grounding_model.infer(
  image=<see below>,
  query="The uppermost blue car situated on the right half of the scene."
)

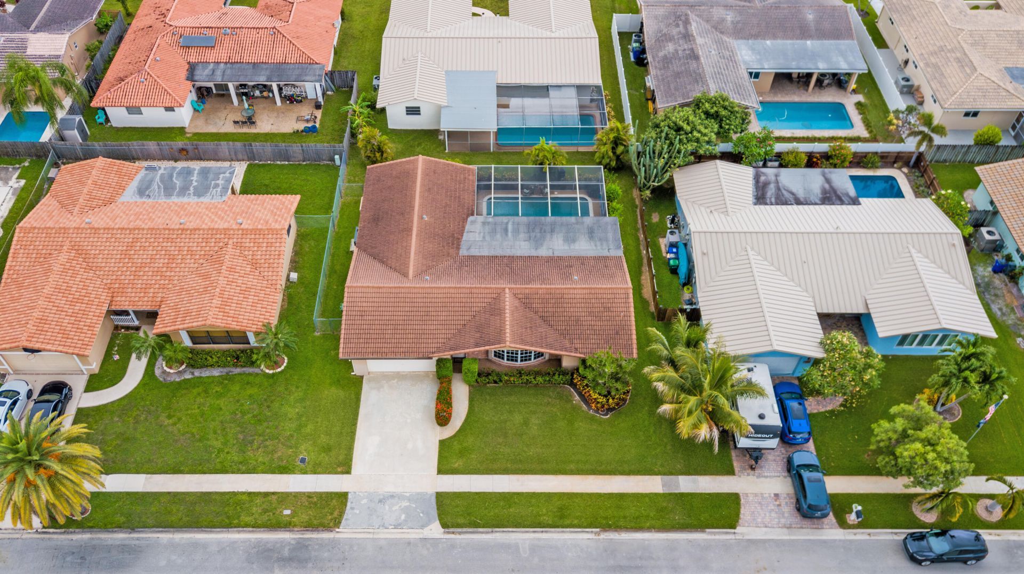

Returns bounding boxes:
[775,381,815,446]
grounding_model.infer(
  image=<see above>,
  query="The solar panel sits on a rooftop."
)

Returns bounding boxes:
[179,34,215,46]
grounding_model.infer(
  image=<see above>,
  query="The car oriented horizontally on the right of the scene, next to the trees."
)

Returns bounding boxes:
[897,521,991,564]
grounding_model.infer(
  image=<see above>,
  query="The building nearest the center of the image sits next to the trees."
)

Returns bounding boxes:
[337,154,639,377]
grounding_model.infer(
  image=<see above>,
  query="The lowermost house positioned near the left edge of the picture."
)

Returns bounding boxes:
[0,155,305,375]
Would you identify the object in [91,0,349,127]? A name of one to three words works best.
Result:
house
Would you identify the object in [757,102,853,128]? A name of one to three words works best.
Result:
swimming pool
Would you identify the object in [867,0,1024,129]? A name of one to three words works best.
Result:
house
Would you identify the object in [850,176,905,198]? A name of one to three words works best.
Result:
swimming pool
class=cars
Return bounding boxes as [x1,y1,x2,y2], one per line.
[0,378,44,448]
[775,381,815,446]
[33,380,84,441]
[782,452,830,523]
[897,521,991,564]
